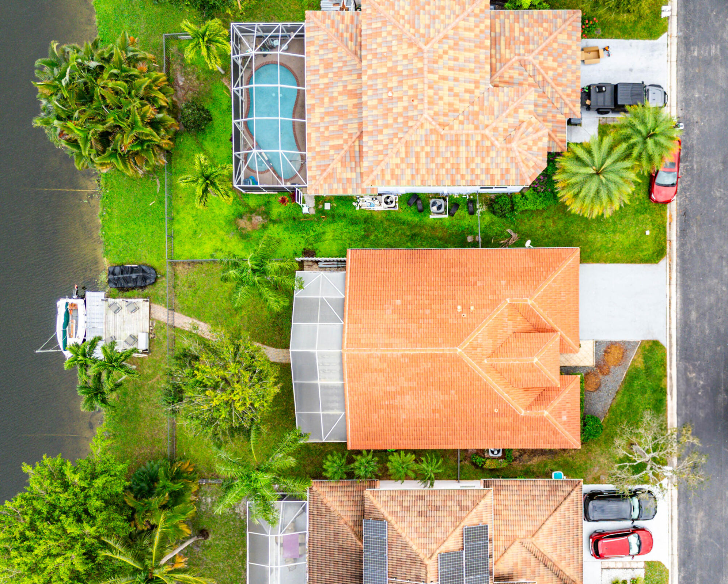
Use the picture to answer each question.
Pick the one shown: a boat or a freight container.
boat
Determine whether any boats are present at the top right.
No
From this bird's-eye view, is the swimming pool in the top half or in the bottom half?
top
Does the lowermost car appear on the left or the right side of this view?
right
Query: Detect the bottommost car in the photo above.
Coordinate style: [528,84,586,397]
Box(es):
[587,526,654,560]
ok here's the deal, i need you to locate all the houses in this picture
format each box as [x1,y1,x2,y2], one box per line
[308,477,585,584]
[304,0,582,197]
[340,245,582,451]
